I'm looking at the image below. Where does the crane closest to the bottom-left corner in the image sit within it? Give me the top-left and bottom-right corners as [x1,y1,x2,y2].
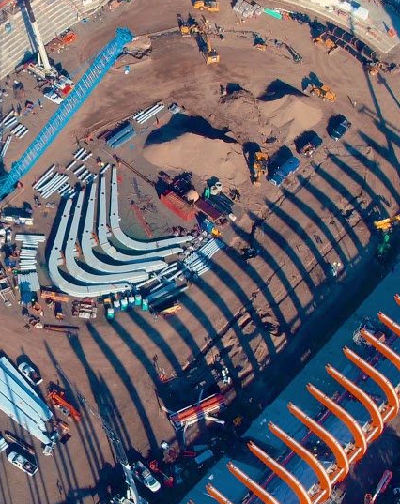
[54,368,177,504]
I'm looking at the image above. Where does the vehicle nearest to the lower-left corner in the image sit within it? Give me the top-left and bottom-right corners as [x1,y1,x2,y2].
[5,449,38,477]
